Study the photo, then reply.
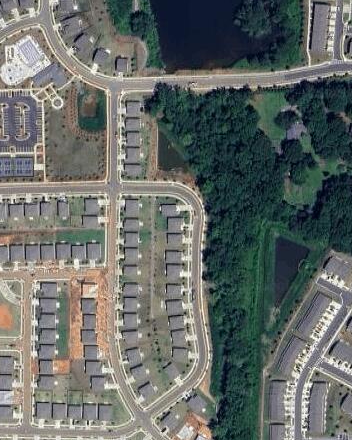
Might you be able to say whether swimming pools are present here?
Yes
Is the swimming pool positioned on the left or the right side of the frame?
left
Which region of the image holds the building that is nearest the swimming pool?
top left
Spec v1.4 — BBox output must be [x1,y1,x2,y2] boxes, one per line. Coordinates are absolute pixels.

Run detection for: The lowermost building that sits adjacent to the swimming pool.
[31,60,70,90]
